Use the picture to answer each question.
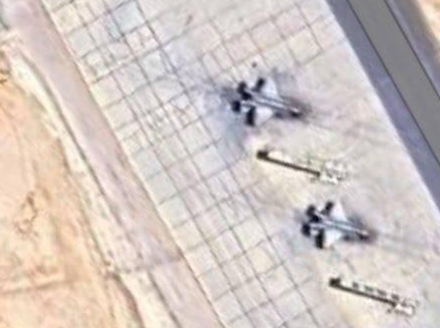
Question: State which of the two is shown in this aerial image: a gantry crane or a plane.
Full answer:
Of the two, only a plane appears.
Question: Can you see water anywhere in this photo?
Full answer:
No, the picture contains no water.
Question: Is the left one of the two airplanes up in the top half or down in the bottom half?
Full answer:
The left one of the two airplanes sits in the top half of the picture.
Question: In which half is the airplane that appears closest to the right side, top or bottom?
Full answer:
The airplane that appears closest to the right side sits in the bottom half of the picture.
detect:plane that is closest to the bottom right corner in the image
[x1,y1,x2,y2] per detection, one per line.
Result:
[311,204,376,248]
